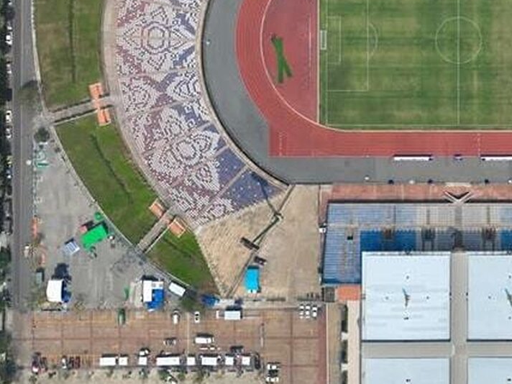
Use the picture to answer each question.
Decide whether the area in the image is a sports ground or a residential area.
sports ground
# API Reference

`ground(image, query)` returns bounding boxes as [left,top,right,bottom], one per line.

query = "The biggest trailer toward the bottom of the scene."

[137,276,162,308]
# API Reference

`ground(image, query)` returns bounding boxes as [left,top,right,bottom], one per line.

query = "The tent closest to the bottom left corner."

[48,276,72,301]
